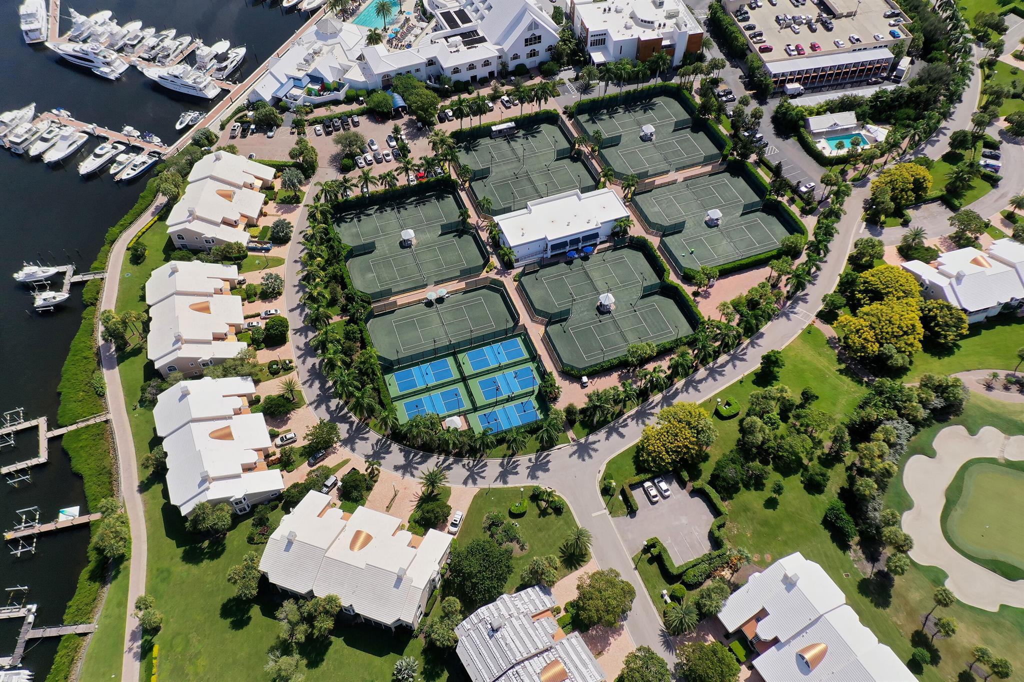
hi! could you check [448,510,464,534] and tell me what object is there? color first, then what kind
white car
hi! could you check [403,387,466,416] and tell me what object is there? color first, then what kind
blue sports court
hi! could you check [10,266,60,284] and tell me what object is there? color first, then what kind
white boat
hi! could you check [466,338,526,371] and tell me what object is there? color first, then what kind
blue sports court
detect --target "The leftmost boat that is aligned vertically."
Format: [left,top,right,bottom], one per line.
[22,0,46,47]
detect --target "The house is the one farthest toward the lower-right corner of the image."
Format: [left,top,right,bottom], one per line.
[715,552,920,682]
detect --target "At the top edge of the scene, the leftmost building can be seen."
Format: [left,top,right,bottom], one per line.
[258,14,378,105]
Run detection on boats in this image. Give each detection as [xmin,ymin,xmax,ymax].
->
[93,66,123,82]
[118,126,140,137]
[0,98,37,154]
[22,0,46,47]
[31,292,71,310]
[0,667,37,682]
[77,143,134,178]
[136,63,225,104]
[45,38,136,78]
[301,0,326,13]
[176,108,198,131]
[40,130,97,166]
[154,33,192,66]
[119,152,160,182]
[27,120,73,159]
[60,8,111,43]
[189,38,231,75]
[123,26,156,55]
[109,152,141,176]
[189,110,208,125]
[207,45,247,81]
[10,266,60,284]
[140,133,161,144]
[90,15,123,46]
[138,29,177,62]
[282,0,301,8]
[8,117,52,159]
[47,107,71,117]
[105,19,143,53]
